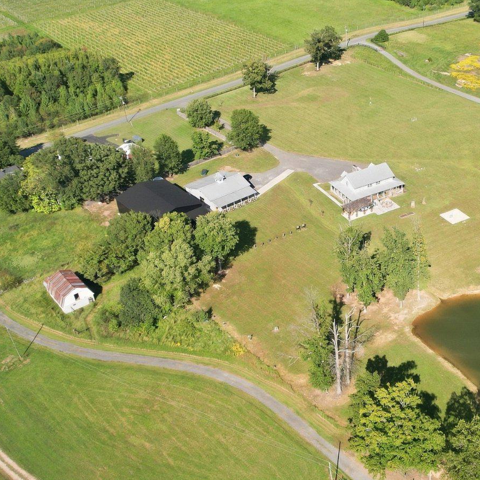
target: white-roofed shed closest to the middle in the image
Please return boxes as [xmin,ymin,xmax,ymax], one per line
[186,168,260,210]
